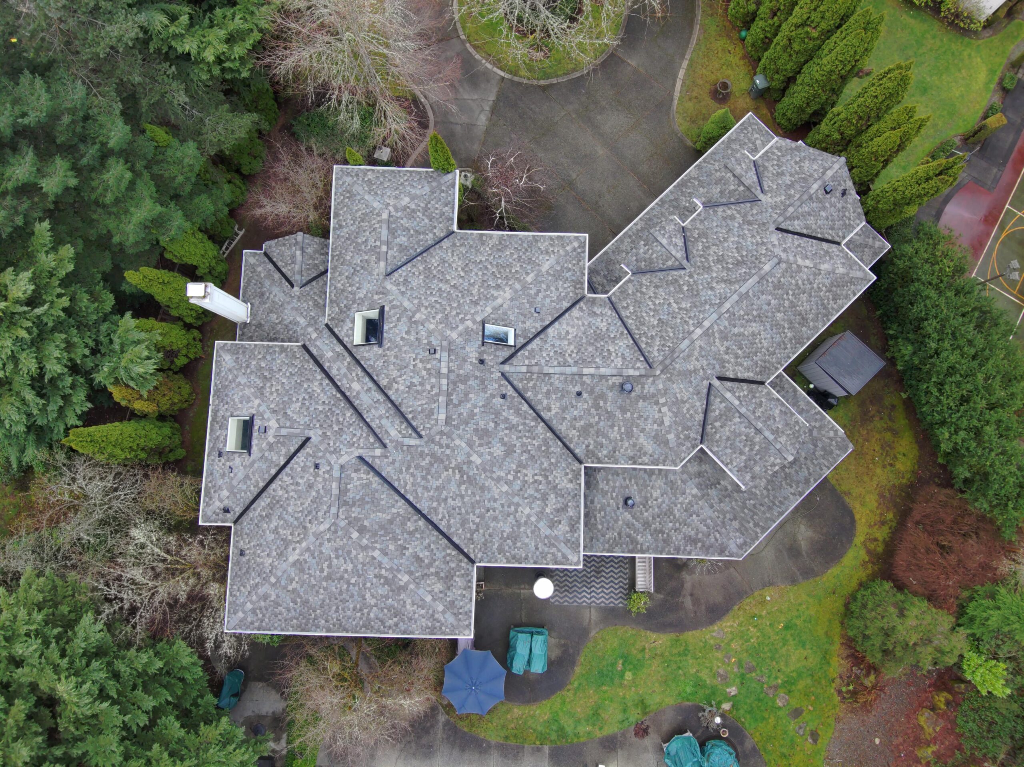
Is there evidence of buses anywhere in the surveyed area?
No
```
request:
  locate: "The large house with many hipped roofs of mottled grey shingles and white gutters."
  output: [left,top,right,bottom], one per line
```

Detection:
[187,110,894,640]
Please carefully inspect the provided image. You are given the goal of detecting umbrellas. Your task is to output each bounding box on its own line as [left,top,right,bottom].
[442,649,507,716]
